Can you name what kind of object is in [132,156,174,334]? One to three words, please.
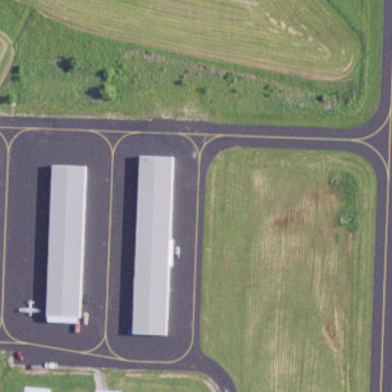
hangar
